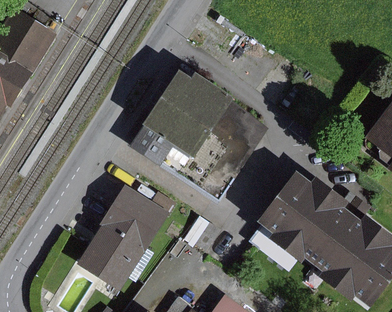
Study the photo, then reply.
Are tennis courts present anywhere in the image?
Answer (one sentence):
No, I can't see a single tennis court in this photo.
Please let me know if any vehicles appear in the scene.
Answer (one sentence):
Yes, the picture does show a vehicle.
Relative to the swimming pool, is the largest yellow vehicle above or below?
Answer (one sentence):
The largest yellow vehicle is located above the swimming pool in this view.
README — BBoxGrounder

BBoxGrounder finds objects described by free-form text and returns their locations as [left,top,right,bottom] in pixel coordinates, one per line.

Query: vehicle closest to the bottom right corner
[333,172,357,185]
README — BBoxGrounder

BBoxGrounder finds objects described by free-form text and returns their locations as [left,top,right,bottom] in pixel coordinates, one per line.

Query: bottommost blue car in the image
[181,288,196,304]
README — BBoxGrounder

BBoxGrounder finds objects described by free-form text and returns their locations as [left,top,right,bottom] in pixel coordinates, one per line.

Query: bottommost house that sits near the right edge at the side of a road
[258,172,392,312]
